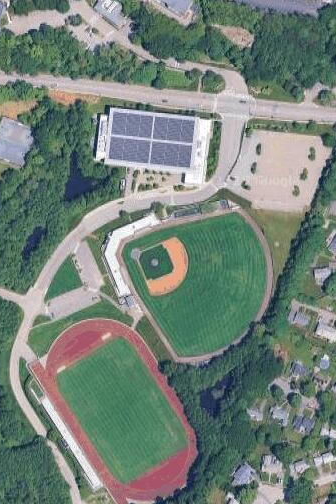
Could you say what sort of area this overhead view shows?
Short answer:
sports ground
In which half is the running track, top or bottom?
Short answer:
bottom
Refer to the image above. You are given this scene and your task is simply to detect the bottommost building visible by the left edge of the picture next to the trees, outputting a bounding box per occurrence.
[0,117,34,167]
